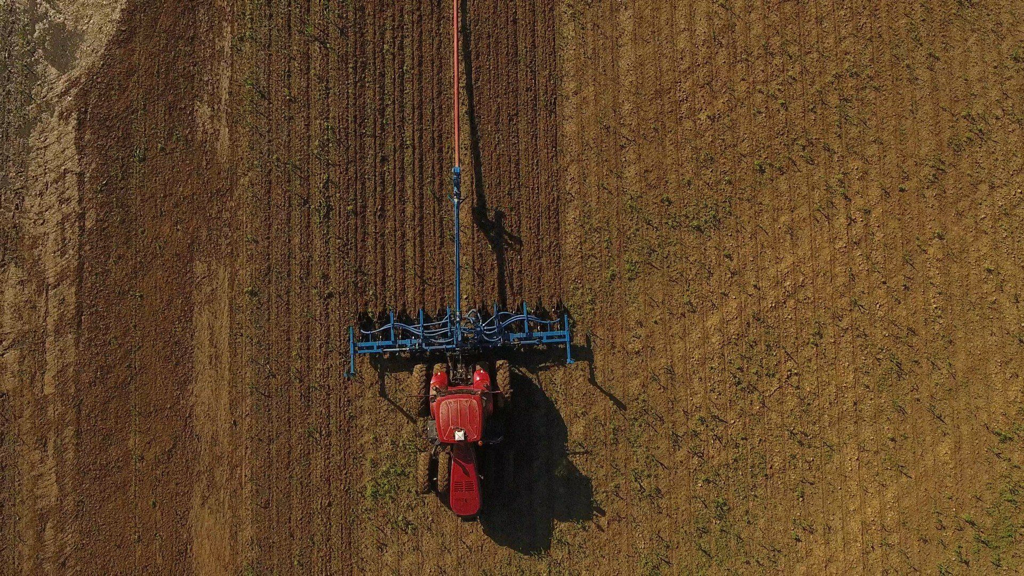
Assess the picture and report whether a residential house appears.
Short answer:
No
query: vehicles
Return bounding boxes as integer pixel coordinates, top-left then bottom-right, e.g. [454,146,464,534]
[413,350,512,521]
